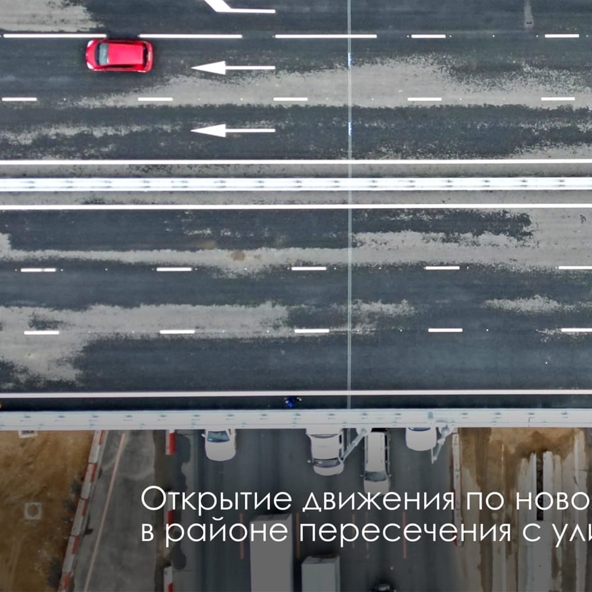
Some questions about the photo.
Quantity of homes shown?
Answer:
0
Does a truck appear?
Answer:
Yes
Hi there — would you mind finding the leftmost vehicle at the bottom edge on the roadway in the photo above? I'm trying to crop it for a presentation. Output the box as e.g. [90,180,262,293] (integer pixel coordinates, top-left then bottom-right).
[251,508,298,592]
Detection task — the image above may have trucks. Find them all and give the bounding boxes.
[251,508,298,592]
[304,430,341,478]
[303,549,344,592]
